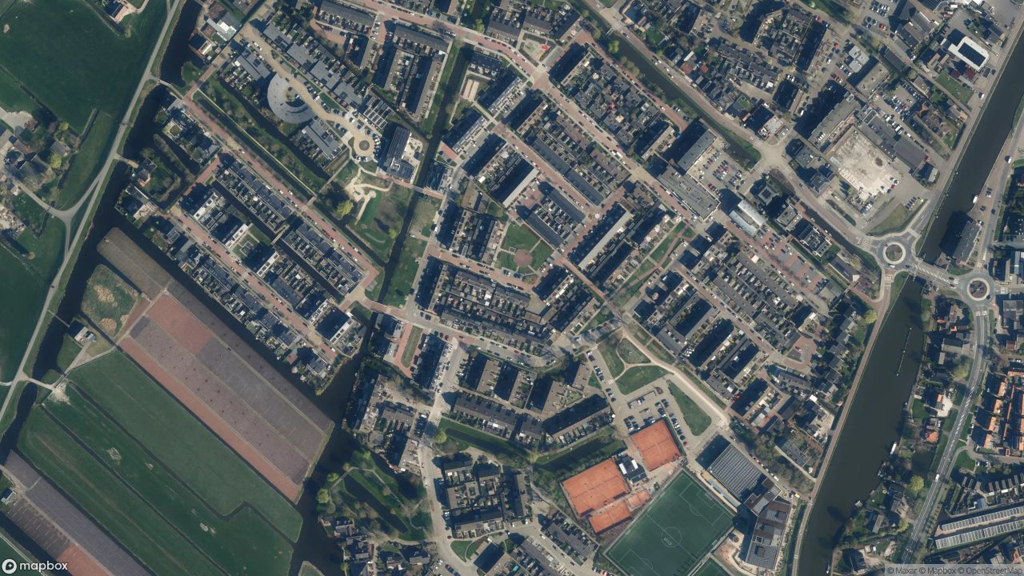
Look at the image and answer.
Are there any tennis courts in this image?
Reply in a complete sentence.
Yes, looking at the shot, I can spot a tennis court.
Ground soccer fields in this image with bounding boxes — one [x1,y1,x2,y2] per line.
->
[605,471,736,576]
[692,557,731,576]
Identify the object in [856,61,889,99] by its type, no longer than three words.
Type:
building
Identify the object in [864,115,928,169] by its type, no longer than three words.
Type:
building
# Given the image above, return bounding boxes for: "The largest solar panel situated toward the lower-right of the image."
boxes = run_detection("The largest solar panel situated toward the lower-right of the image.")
[747,546,776,568]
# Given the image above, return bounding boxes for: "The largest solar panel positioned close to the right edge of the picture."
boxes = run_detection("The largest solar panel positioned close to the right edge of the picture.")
[959,43,985,66]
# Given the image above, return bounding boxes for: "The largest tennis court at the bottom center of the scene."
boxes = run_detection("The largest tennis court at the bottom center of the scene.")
[561,458,629,517]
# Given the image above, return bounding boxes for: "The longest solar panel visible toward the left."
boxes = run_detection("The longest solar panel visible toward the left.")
[390,128,409,157]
